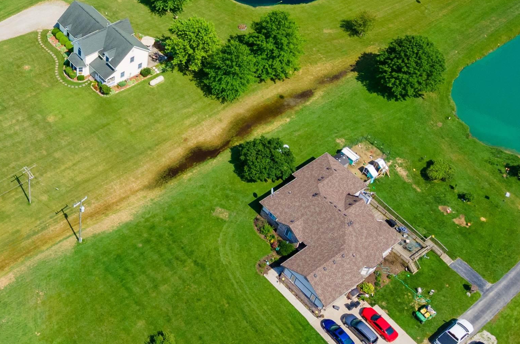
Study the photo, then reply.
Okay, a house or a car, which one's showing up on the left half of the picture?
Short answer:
house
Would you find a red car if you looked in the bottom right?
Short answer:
Yes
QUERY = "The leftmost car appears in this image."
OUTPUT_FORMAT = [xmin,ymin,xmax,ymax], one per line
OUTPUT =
[319,316,355,344]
